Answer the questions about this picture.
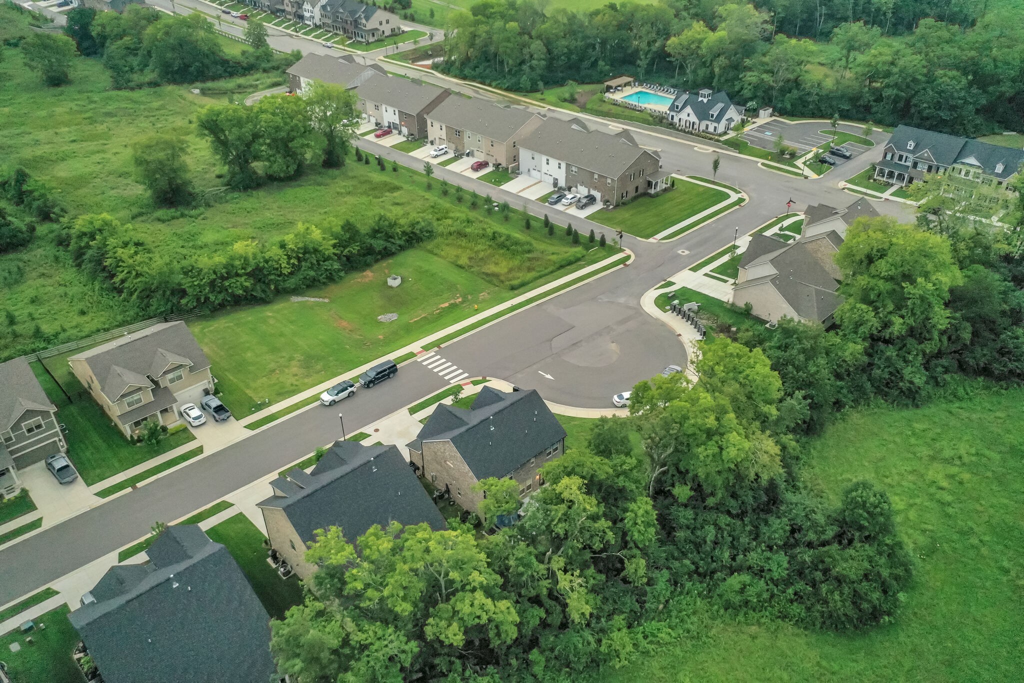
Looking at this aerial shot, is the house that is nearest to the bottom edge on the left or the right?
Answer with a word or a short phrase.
left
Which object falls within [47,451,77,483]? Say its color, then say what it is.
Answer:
gray truck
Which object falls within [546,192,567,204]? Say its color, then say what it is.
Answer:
gray vehicle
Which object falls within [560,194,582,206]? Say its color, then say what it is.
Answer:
white vehicle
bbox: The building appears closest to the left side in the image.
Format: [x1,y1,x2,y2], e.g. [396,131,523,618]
[0,349,66,496]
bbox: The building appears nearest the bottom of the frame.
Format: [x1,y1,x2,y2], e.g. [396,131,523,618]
[64,522,284,683]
